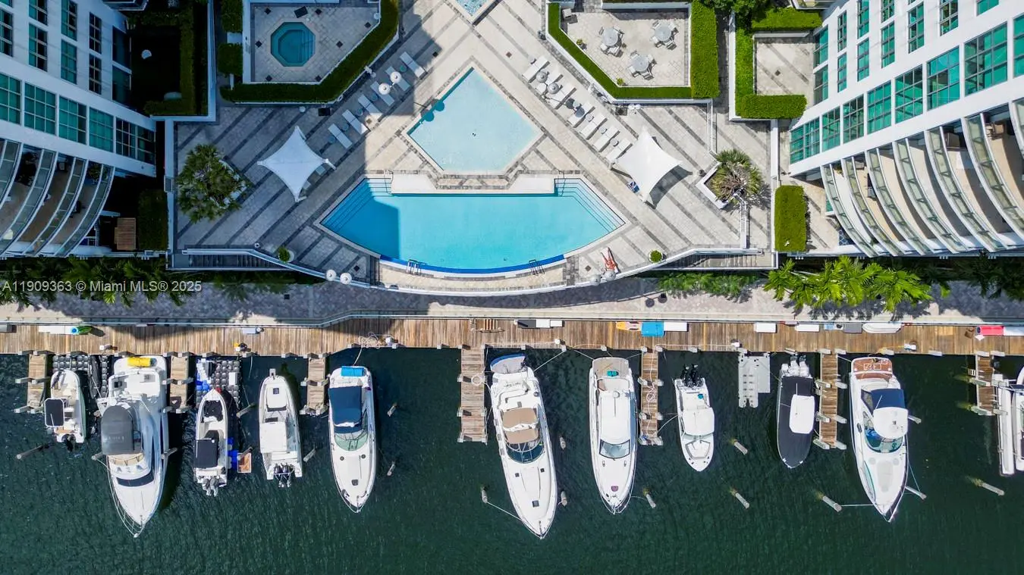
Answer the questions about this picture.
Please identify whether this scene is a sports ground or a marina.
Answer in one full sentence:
The picture captures a marina.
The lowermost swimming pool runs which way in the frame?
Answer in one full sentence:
The lowermost swimming pool is oriented horizontally.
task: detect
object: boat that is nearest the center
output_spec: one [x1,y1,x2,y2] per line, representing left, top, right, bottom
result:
[488,353,527,373]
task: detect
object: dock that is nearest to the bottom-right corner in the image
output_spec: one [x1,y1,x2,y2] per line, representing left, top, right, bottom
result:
[959,355,1009,416]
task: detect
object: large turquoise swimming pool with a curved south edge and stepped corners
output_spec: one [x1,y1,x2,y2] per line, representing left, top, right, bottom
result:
[309,171,636,277]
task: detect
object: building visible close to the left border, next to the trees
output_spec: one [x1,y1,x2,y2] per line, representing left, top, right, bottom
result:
[0,0,157,255]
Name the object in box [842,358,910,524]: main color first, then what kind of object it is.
white boat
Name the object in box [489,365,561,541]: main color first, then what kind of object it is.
white boat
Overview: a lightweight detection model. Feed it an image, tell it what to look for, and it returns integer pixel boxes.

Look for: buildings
[788,0,1024,255]
[0,0,157,255]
